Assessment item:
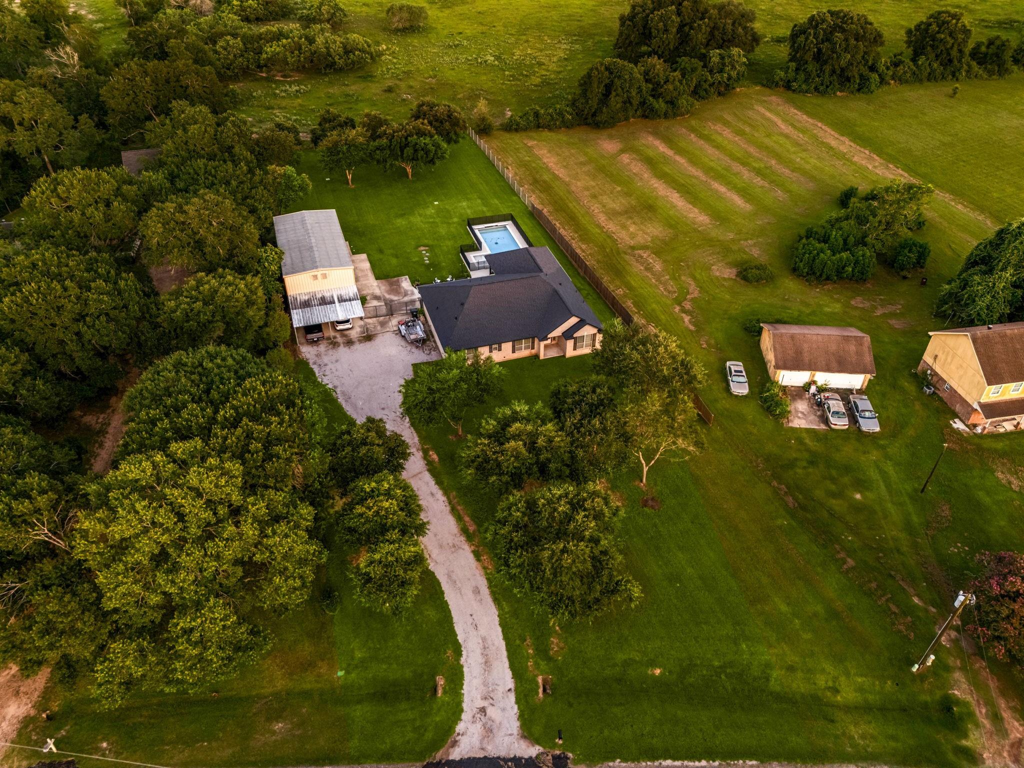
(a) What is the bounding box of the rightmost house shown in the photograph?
[917,322,1024,436]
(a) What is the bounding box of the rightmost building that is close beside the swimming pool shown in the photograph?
[418,248,604,365]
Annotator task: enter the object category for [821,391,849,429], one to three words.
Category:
car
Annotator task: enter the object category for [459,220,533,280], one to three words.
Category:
swimming pool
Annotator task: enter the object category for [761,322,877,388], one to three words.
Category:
building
